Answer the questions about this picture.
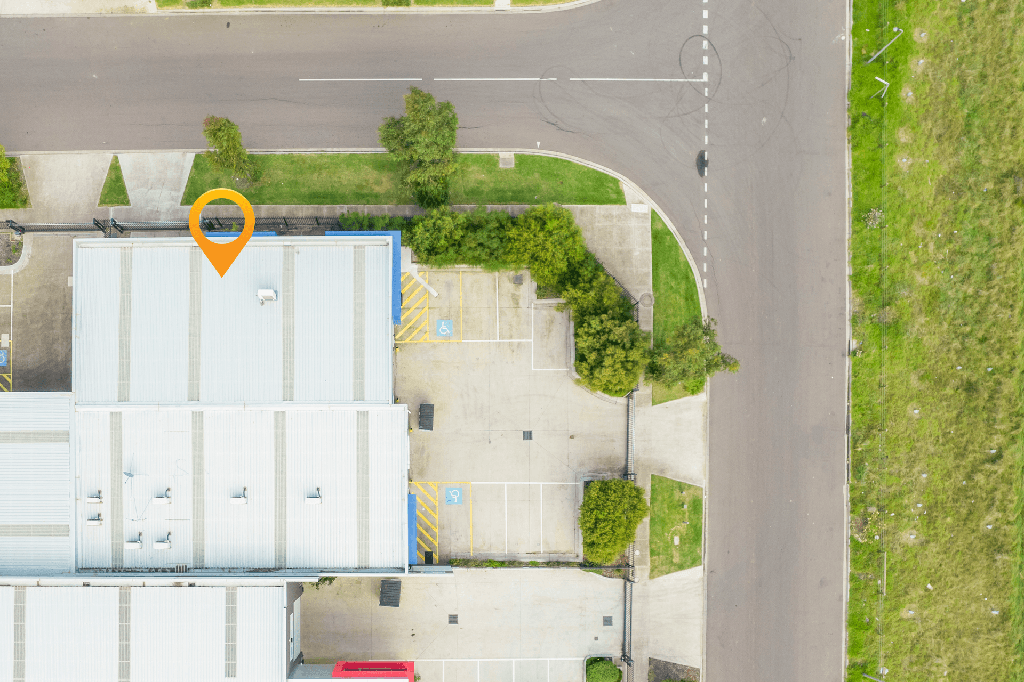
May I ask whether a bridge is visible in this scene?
No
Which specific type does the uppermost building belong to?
warehouse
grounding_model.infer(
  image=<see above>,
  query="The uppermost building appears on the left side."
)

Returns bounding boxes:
[73,231,403,406]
